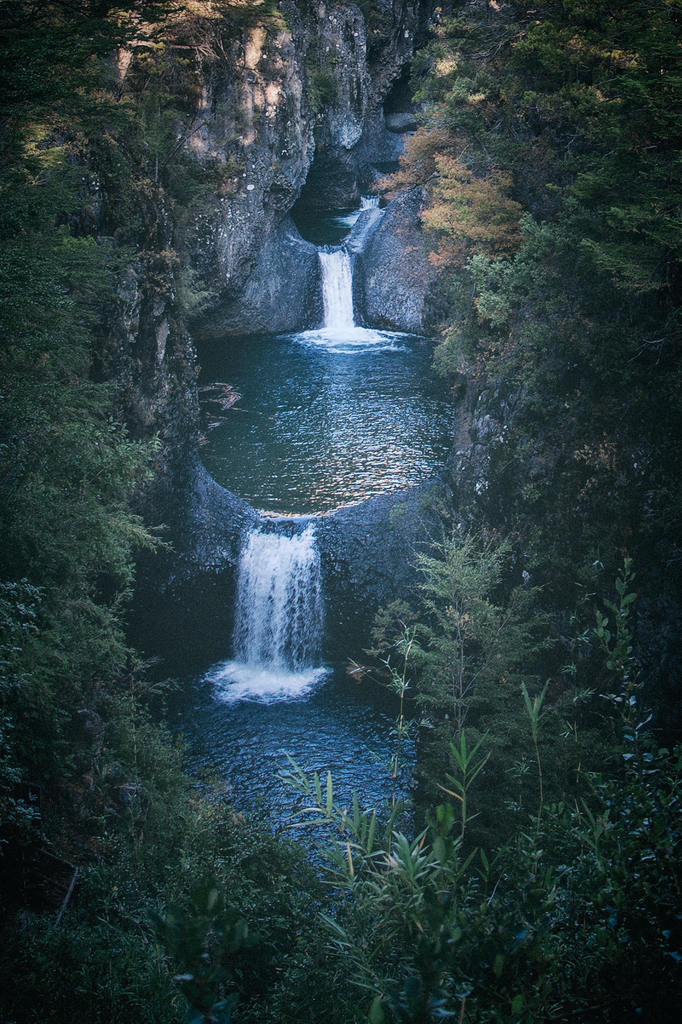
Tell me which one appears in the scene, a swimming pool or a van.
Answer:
swimming pool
